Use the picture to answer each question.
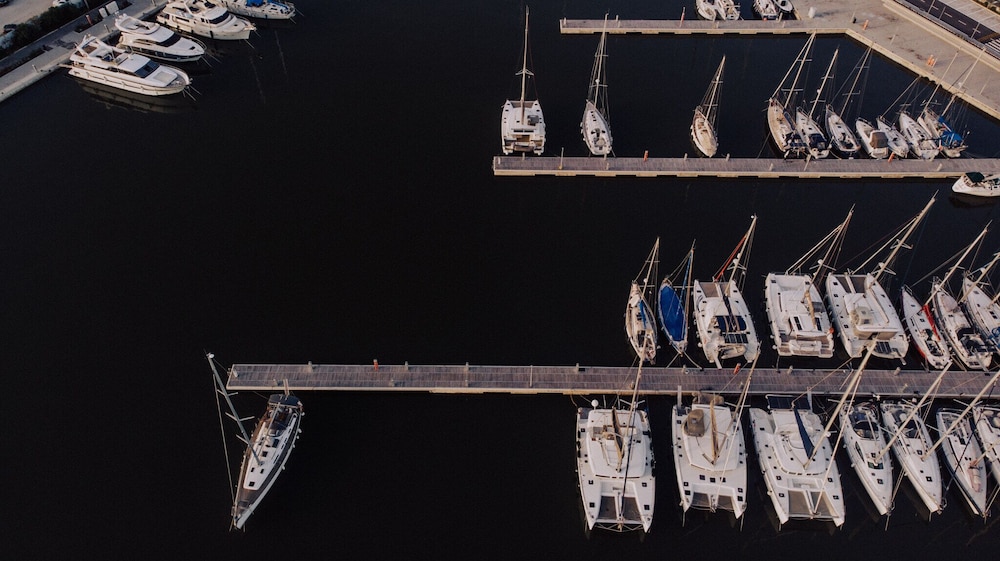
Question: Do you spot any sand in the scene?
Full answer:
No, sand can't be seen anywhere here.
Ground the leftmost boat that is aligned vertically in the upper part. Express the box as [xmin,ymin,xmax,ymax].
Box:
[499,2,546,156]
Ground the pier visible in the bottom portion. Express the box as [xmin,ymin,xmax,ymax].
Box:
[228,365,1000,400]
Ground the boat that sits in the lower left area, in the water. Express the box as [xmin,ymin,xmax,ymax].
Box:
[207,350,309,542]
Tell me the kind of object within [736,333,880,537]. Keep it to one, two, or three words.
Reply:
boat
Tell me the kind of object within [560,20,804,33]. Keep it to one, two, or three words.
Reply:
pier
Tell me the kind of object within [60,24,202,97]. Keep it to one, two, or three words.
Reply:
boat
